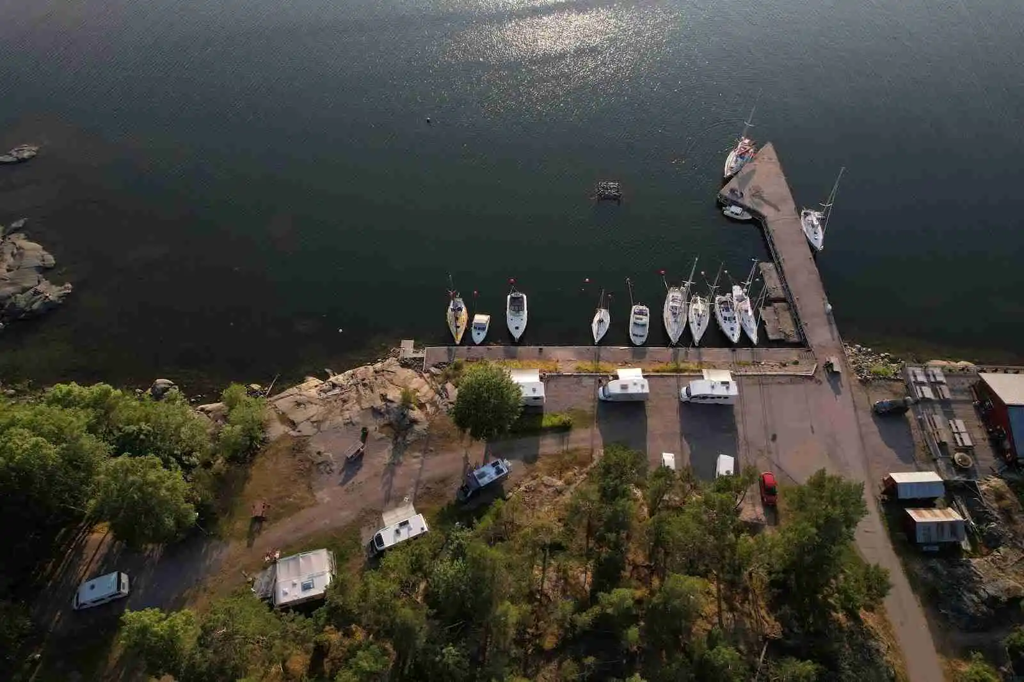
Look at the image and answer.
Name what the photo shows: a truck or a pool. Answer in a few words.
truck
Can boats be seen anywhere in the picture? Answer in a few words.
Yes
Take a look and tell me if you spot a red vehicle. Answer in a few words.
Yes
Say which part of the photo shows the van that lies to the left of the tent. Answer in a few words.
bottom left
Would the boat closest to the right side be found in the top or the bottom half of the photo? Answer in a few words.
top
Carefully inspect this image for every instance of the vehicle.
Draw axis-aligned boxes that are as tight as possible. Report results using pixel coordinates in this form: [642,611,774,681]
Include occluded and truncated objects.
[455,455,514,506]
[504,368,545,408]
[868,399,910,420]
[599,365,650,406]
[758,474,779,506]
[74,573,131,611]
[372,502,432,559]
[678,366,739,407]
[658,451,677,496]
[712,455,735,485]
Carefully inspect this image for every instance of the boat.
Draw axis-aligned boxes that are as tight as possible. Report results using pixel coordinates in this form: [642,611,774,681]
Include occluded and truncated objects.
[721,203,751,223]
[732,284,768,346]
[712,259,758,345]
[592,289,609,345]
[660,258,698,345]
[687,263,724,347]
[443,274,468,346]
[629,298,650,346]
[796,167,844,251]
[471,314,490,346]
[725,105,756,180]
[505,284,528,343]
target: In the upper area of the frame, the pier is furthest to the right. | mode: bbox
[718,144,846,362]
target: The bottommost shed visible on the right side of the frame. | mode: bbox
[901,507,966,546]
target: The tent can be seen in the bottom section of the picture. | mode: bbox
[246,569,276,607]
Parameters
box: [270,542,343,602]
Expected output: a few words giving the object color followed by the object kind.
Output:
white camper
